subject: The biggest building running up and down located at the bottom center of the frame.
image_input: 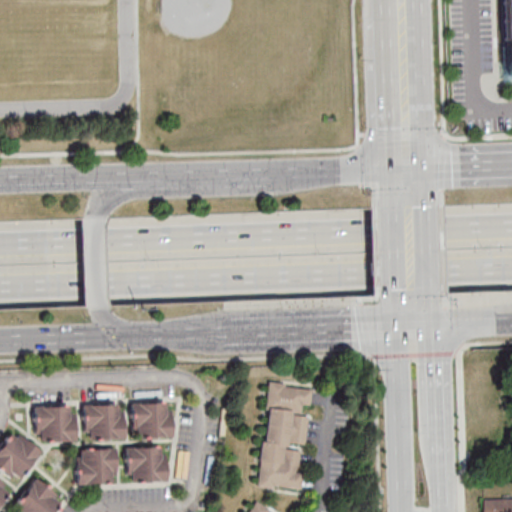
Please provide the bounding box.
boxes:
[262,383,314,492]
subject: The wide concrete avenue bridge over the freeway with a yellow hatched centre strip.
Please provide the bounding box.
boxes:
[372,204,447,296]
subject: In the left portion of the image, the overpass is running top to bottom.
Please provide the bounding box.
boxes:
[83,218,112,306]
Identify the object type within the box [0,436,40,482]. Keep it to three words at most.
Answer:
house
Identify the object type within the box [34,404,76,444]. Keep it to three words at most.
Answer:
house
